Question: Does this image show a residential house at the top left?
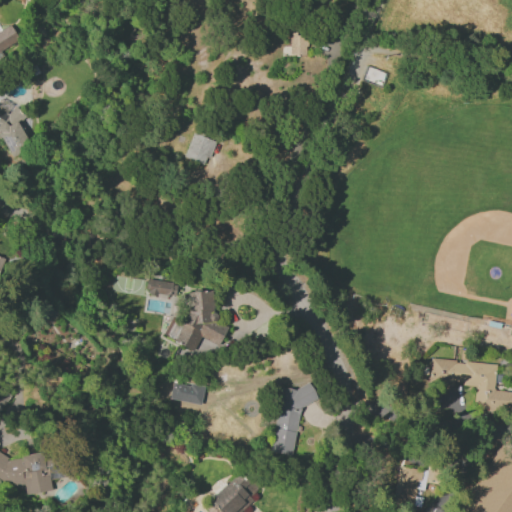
Yes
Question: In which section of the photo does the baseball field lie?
right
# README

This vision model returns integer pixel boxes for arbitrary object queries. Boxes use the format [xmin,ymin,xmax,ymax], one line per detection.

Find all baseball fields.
[324,97,512,330]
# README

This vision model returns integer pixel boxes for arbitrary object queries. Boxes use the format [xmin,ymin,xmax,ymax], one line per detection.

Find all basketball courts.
[114,276,146,296]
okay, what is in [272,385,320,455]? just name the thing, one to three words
house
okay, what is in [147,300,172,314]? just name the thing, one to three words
swimming pool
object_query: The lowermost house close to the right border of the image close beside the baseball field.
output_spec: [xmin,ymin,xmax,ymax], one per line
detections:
[426,360,512,412]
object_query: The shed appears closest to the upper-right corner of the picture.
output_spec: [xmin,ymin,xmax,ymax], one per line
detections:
[364,64,389,86]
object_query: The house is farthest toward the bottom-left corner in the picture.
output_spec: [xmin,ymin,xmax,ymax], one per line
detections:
[0,450,52,496]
